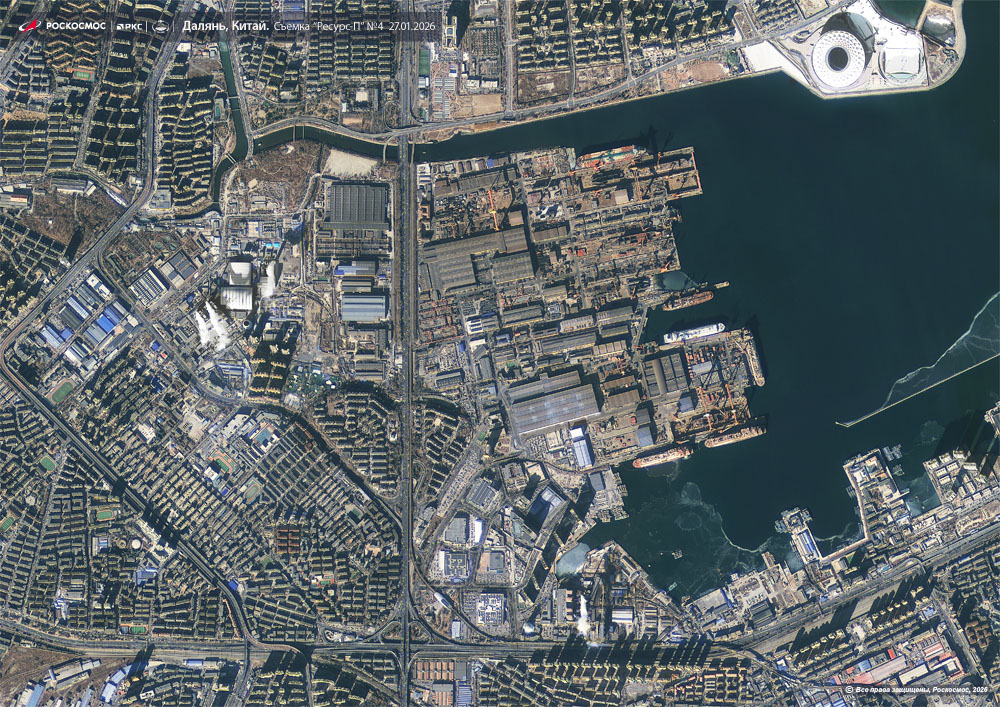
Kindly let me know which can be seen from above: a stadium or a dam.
stadium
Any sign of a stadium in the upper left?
No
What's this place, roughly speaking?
port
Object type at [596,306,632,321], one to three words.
building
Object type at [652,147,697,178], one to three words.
pier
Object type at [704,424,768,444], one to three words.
ship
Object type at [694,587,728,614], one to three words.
building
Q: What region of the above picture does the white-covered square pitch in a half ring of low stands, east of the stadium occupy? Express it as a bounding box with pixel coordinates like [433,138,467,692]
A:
[880,48,925,84]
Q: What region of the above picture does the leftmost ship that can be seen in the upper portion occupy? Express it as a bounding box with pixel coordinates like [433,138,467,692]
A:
[576,145,638,165]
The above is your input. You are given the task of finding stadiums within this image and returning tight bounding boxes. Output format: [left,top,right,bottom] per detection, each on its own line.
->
[812,33,866,89]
